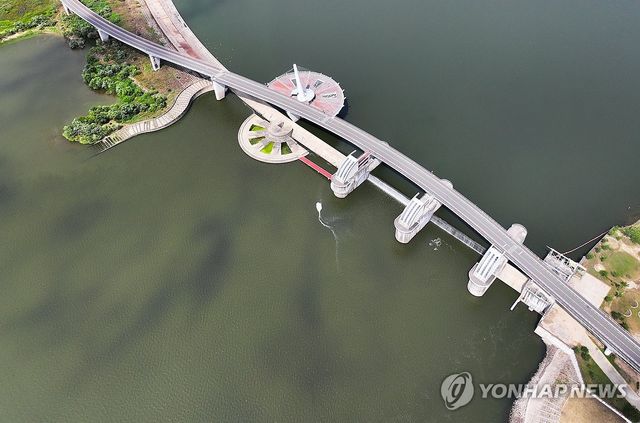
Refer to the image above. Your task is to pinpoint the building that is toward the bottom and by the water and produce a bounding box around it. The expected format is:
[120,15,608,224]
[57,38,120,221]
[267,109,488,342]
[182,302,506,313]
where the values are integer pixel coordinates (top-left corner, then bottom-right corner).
[509,280,556,322]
